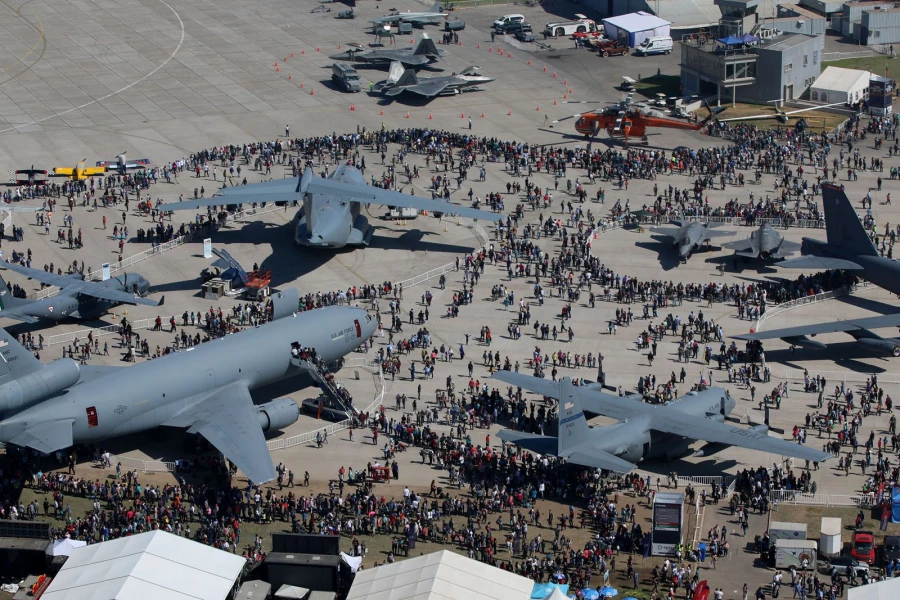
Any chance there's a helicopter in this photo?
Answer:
Yes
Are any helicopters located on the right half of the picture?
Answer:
Yes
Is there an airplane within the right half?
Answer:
Yes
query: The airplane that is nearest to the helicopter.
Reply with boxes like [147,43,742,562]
[725,97,841,122]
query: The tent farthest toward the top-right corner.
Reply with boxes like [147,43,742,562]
[807,62,874,105]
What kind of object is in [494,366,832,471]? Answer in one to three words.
airplane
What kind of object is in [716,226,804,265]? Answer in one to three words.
airplane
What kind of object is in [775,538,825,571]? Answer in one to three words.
trailer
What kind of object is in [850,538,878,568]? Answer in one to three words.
truck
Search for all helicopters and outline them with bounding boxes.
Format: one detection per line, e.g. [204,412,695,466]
[560,90,728,148]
